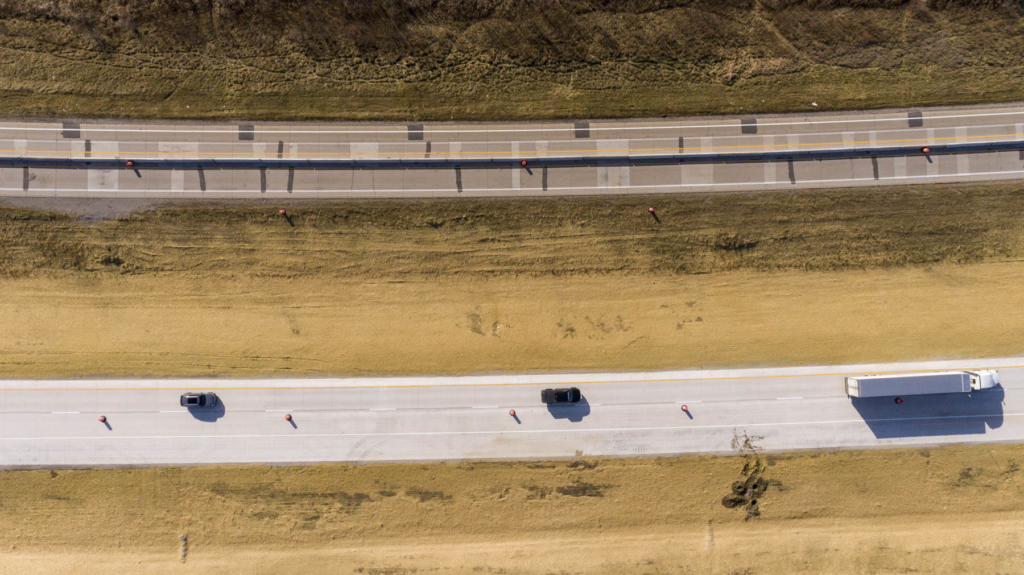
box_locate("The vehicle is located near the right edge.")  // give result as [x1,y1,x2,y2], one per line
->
[844,370,1002,397]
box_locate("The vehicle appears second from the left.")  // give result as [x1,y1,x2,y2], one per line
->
[540,387,581,404]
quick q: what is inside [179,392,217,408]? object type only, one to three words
car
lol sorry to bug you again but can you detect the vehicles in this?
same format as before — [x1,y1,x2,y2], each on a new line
[540,387,581,404]
[179,392,217,408]
[844,370,1002,397]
